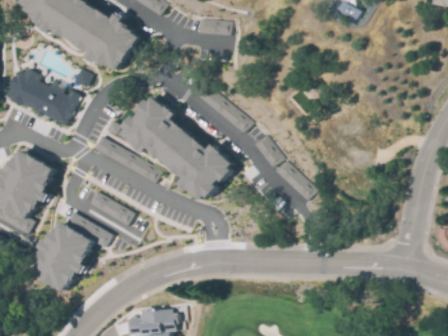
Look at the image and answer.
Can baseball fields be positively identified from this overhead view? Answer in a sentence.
No, there appears to be no baseball field in this shot.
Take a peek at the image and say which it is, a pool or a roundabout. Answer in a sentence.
Looking from above, you can make out a pool.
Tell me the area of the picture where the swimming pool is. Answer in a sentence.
The swimming pool sits in the top left section of the image.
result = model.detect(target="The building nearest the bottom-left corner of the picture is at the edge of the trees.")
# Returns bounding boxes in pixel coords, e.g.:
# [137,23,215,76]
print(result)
[38,224,97,289]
